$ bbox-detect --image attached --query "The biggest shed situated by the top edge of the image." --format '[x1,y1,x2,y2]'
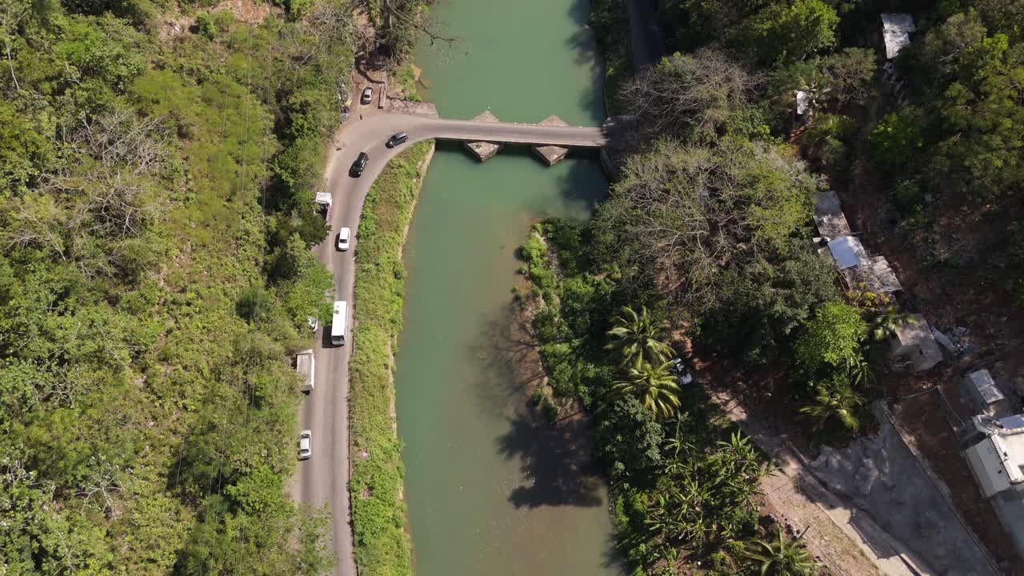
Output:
[875,13,915,71]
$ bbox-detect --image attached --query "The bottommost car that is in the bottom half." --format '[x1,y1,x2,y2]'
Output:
[297,430,313,460]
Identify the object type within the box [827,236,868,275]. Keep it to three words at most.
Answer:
shed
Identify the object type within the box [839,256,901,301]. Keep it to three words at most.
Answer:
shed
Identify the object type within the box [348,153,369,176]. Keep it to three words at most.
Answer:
car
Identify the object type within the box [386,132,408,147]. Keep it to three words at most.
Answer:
car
